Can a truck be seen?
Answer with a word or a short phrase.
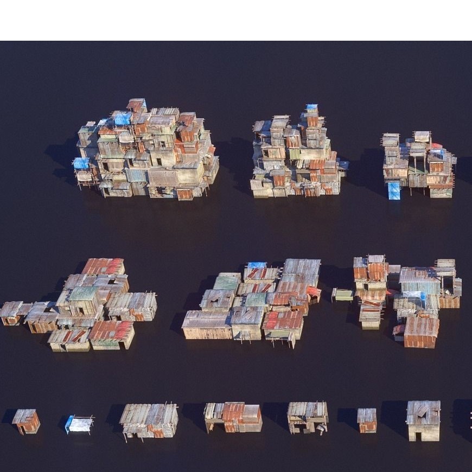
No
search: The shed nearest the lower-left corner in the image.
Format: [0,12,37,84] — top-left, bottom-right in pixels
[10,408,41,437]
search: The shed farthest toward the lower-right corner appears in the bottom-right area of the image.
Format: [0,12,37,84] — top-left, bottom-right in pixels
[406,399,444,441]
